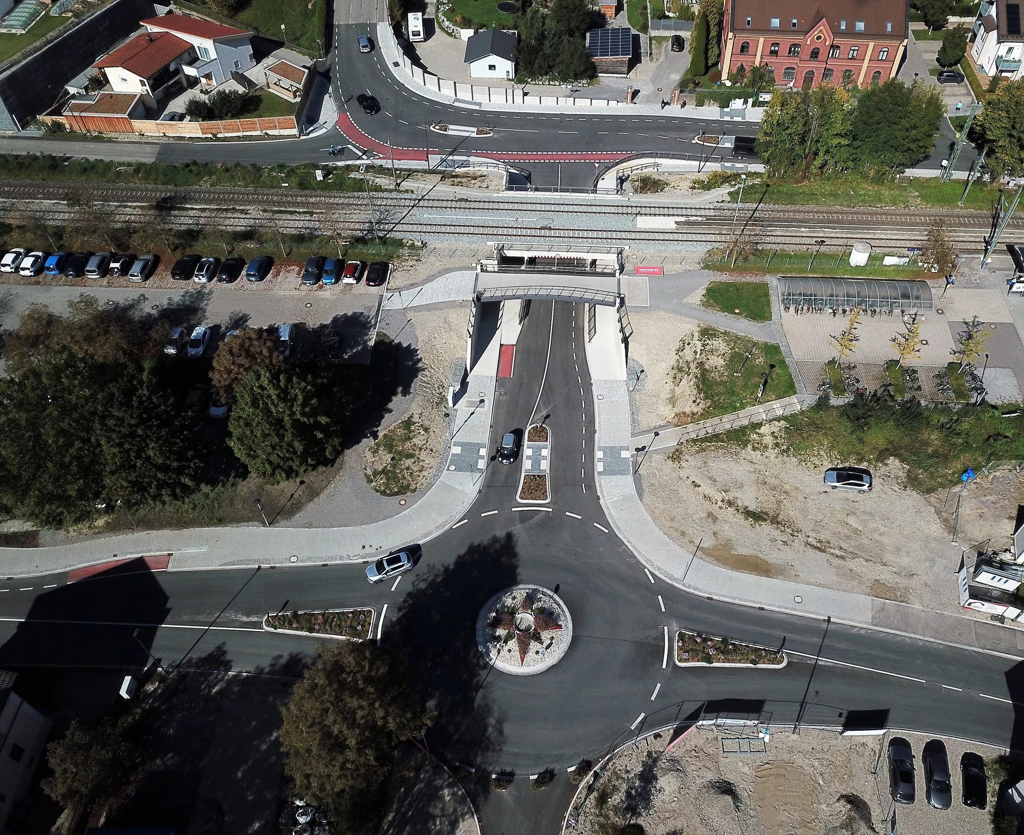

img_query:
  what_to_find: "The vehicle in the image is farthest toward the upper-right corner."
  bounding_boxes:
[937,66,969,83]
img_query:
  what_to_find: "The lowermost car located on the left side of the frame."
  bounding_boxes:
[360,547,416,586]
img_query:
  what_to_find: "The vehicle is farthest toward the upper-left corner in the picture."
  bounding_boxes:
[158,107,192,123]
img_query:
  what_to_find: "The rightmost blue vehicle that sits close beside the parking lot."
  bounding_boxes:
[318,255,340,282]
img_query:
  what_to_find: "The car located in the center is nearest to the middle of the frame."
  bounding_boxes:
[497,429,519,466]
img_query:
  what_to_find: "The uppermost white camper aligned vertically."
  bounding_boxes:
[408,11,424,45]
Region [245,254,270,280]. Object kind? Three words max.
car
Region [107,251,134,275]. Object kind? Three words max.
car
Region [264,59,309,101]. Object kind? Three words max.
building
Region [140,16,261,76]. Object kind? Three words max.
house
